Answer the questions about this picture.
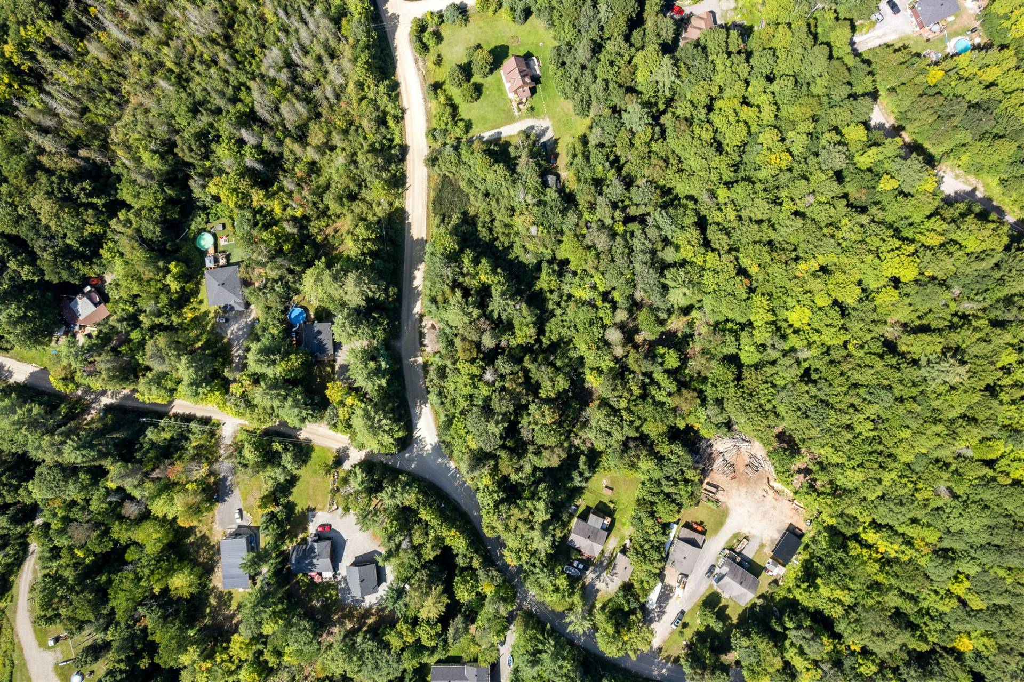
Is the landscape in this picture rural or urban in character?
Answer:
rural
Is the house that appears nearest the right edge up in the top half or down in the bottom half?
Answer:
top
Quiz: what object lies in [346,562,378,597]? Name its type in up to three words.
building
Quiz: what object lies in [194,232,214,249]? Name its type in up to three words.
swimming pool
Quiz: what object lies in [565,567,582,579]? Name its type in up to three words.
boat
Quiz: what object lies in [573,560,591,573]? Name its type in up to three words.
vehicle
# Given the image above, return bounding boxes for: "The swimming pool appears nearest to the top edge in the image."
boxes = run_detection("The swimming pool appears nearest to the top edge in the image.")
[953,36,973,53]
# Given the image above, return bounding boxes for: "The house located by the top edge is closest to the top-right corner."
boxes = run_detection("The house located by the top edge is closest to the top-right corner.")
[904,0,960,40]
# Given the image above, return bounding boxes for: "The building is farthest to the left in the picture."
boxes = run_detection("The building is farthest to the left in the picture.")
[58,291,115,336]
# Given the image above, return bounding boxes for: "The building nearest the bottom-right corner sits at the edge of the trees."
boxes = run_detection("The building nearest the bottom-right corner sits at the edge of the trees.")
[766,529,802,566]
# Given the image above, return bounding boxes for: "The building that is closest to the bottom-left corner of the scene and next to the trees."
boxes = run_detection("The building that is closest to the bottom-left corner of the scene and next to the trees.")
[220,528,257,589]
